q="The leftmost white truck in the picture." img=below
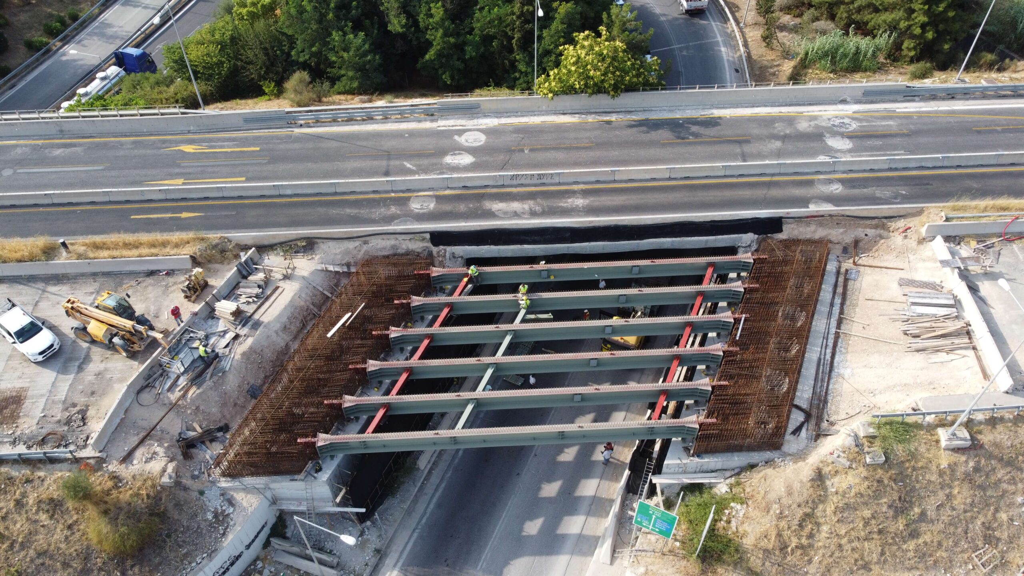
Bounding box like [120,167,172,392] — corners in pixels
[0,299,58,365]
